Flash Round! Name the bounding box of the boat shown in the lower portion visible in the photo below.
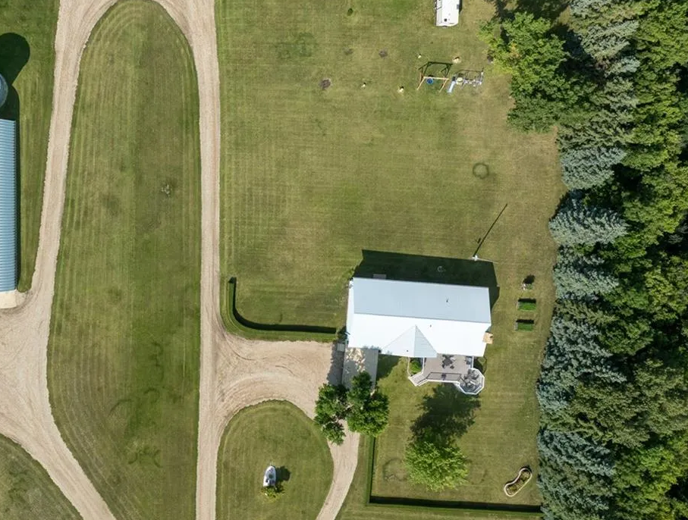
[263,462,276,487]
